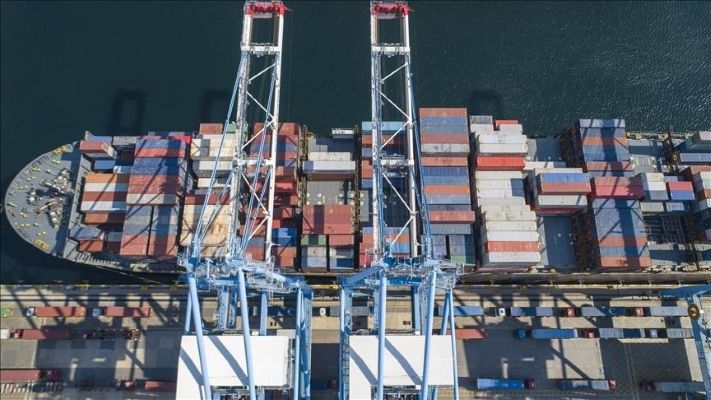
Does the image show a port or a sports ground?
port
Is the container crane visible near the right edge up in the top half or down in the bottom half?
bottom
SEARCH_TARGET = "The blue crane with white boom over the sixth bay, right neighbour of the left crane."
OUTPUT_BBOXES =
[333,0,467,400]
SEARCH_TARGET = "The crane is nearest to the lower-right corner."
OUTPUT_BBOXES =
[649,290,711,399]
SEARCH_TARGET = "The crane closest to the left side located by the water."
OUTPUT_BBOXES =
[179,0,329,400]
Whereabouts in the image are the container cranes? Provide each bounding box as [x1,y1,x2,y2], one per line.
[179,0,329,400]
[333,0,467,400]
[649,290,711,399]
